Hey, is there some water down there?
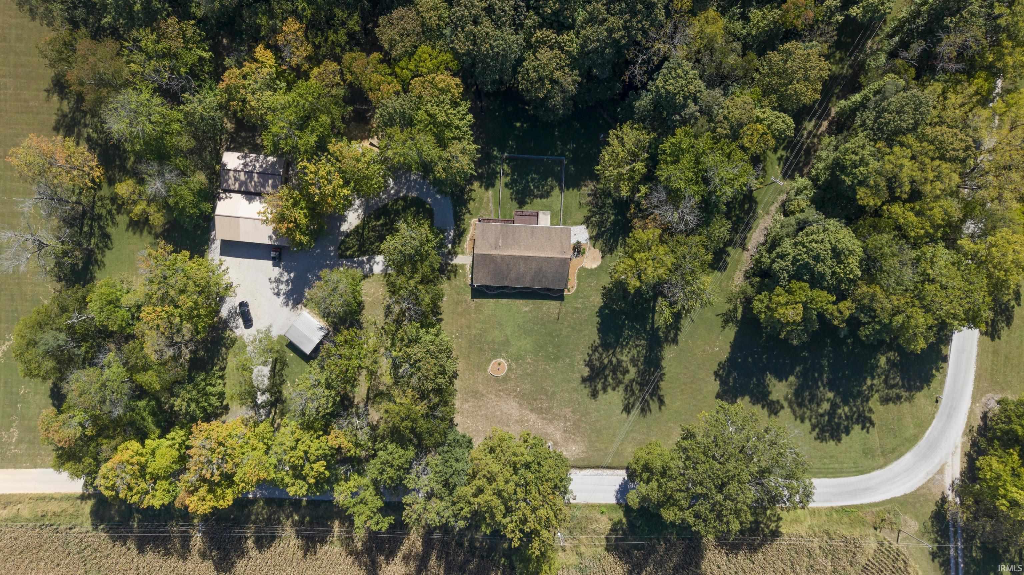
No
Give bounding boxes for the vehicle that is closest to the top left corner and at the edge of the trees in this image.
[270,246,282,262]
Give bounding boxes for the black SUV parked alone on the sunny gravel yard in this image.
[237,301,255,330]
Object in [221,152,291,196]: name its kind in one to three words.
barn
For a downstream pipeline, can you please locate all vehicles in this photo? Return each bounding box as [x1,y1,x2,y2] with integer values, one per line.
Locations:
[270,246,282,262]
[237,301,255,330]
